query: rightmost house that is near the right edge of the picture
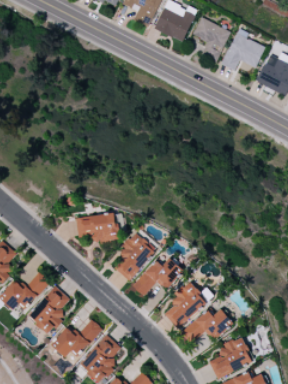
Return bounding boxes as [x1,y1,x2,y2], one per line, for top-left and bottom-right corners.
[258,53,288,94]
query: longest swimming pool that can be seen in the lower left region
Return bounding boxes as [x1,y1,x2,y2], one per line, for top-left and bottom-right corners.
[22,326,39,346]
